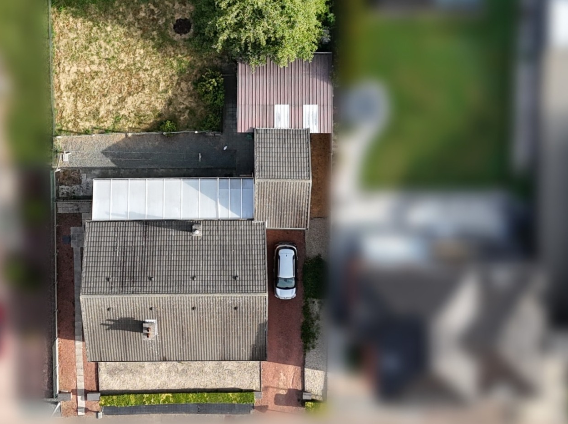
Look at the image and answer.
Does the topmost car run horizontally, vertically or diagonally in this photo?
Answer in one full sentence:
I'd say the topmost car is aligned vertically in the picture.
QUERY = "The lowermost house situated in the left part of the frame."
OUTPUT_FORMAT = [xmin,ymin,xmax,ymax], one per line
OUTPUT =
[78,217,270,363]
